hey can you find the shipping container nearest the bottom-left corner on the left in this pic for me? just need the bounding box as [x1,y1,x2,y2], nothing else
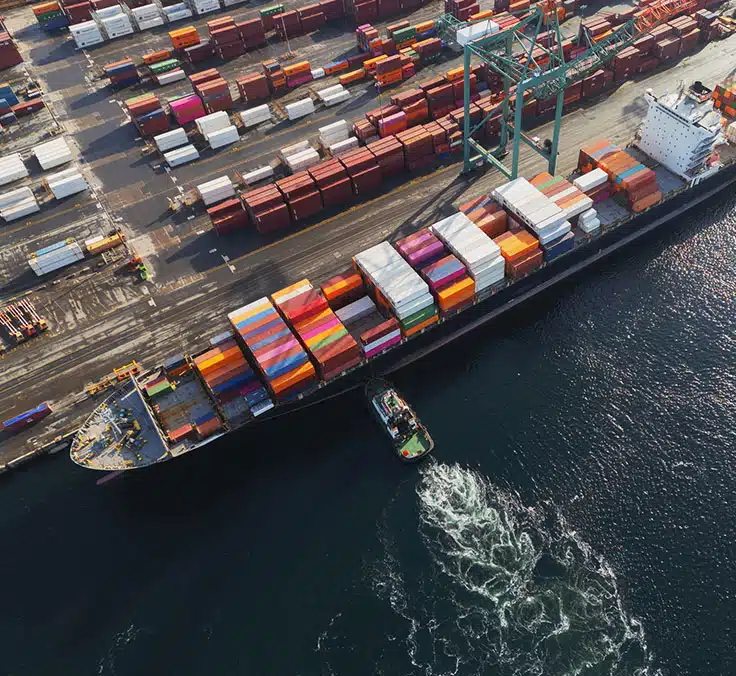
[0,400,50,432]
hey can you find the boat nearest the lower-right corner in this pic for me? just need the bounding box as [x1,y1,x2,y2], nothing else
[364,369,434,466]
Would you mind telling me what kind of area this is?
port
